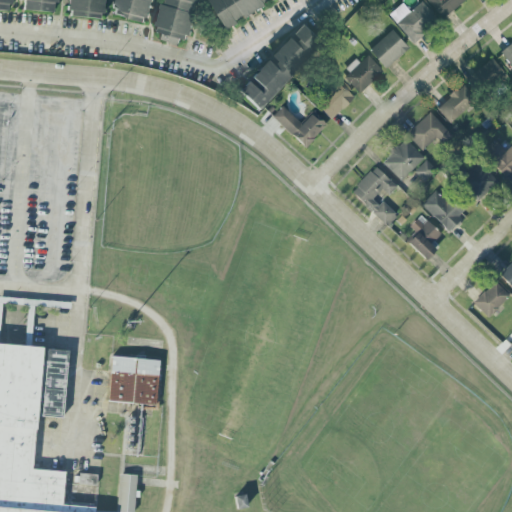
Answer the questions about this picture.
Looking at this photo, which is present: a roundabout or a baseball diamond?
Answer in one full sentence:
Visible in the photo is a baseball diamond.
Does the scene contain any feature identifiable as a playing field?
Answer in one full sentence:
Yes, the frame does contain a playing field.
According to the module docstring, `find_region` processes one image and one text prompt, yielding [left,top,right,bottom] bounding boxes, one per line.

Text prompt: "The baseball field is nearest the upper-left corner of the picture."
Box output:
[102,109,240,252]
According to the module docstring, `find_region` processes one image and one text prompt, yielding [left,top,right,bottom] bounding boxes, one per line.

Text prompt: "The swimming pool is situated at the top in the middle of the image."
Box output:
[288,90,306,118]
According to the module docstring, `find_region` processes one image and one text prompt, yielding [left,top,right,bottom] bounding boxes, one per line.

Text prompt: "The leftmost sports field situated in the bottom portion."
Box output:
[180,203,350,452]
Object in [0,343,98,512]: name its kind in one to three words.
building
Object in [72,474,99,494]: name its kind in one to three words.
shed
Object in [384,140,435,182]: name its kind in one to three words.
house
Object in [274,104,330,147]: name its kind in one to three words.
house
